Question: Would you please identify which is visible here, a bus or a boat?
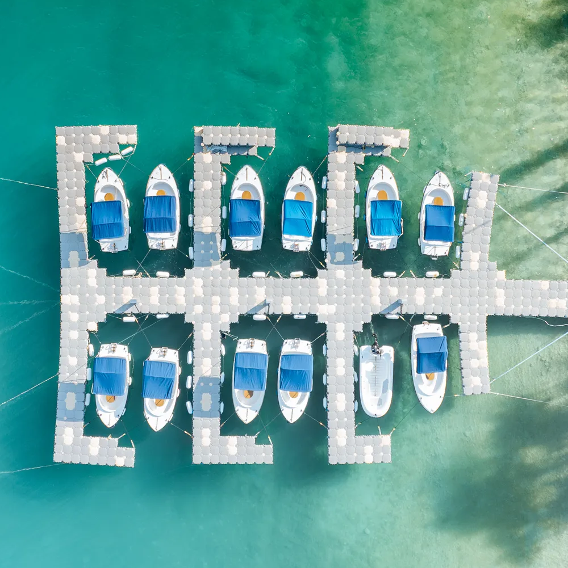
boat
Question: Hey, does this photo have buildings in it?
No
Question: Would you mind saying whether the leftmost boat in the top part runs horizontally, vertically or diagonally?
vertically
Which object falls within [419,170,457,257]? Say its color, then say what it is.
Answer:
white boat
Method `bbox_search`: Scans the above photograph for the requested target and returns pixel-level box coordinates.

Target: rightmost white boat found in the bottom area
[410,323,450,415]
